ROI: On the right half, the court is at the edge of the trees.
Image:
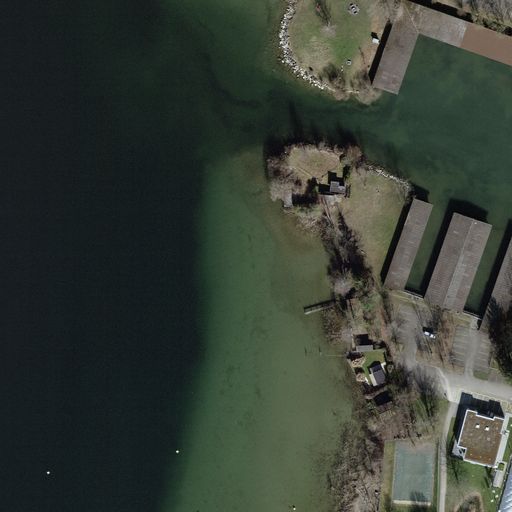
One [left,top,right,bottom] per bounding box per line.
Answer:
[393,440,436,504]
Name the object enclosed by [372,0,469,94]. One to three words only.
building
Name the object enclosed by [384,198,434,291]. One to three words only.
building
